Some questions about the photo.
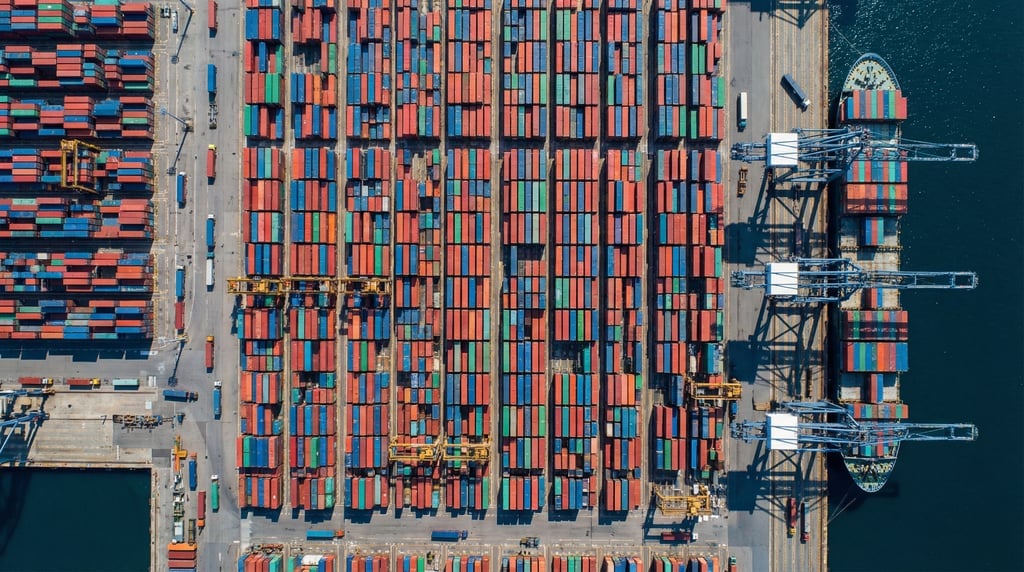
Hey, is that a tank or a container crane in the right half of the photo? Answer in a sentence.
There is a container crane in the right half of the photo.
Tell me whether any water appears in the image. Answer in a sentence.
Yes, some water is visible.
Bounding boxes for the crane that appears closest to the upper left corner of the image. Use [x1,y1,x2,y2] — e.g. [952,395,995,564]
[61,140,101,193]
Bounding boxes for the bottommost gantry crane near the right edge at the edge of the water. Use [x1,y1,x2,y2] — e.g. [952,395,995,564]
[730,391,977,453]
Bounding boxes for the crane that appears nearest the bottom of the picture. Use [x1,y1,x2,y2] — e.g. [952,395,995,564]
[655,483,712,513]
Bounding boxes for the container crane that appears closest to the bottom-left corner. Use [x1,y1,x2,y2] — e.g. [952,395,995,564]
[0,388,52,434]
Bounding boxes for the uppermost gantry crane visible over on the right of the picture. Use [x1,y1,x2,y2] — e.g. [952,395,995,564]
[730,131,977,191]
